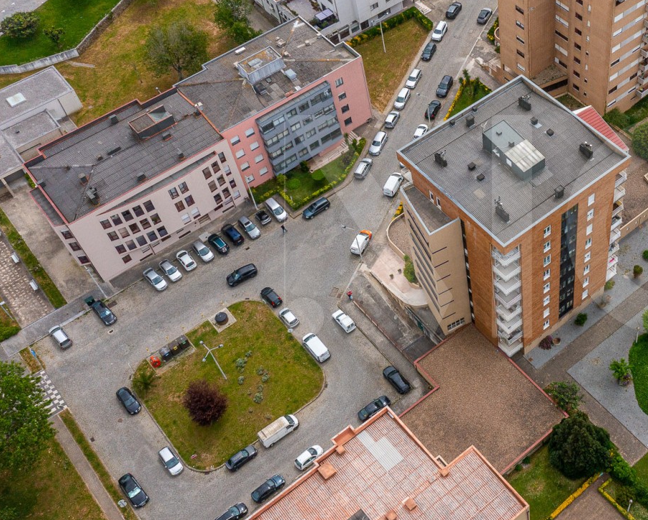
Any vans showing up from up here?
Yes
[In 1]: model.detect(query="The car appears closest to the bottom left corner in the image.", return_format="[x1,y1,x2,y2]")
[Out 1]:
[118,473,150,510]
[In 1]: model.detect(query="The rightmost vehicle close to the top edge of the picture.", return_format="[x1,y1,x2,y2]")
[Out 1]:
[476,8,494,25]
